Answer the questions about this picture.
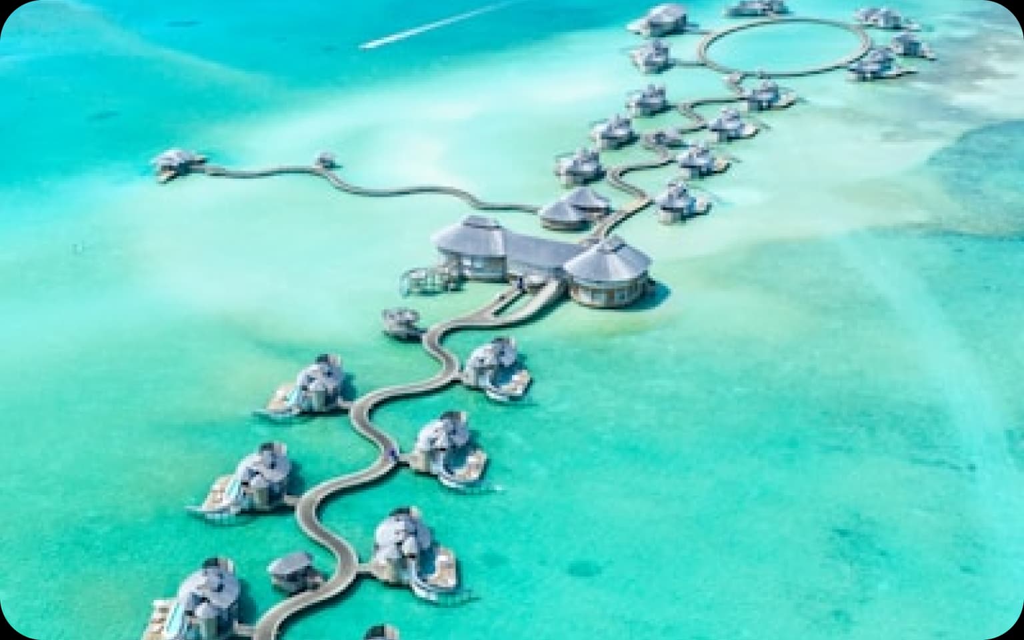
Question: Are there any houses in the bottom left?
Yes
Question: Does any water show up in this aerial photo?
Yes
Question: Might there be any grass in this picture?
No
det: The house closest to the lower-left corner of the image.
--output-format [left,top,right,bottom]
[145,556,249,640]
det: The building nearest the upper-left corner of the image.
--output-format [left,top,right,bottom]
[145,152,219,189]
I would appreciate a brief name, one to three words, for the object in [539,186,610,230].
building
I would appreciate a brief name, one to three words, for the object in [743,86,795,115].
house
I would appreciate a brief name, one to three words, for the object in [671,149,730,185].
house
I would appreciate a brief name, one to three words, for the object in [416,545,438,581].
swimming pool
